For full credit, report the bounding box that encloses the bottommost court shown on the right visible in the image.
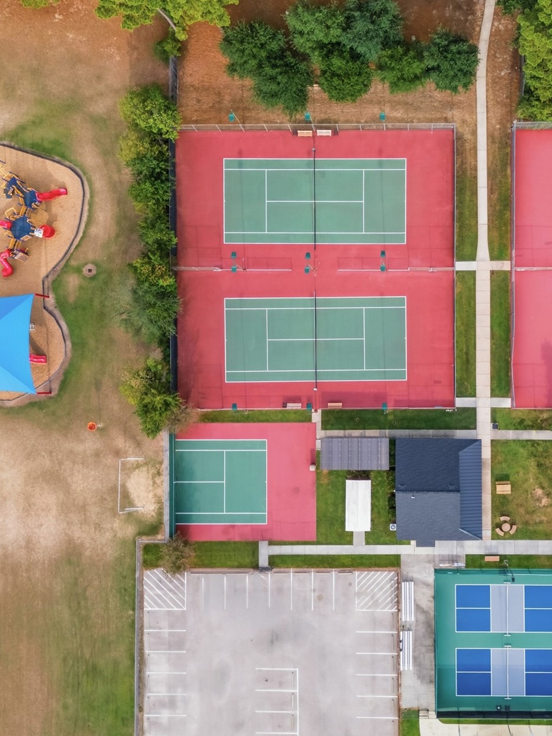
[437,641,552,712]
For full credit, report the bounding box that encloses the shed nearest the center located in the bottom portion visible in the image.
[345,480,372,531]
